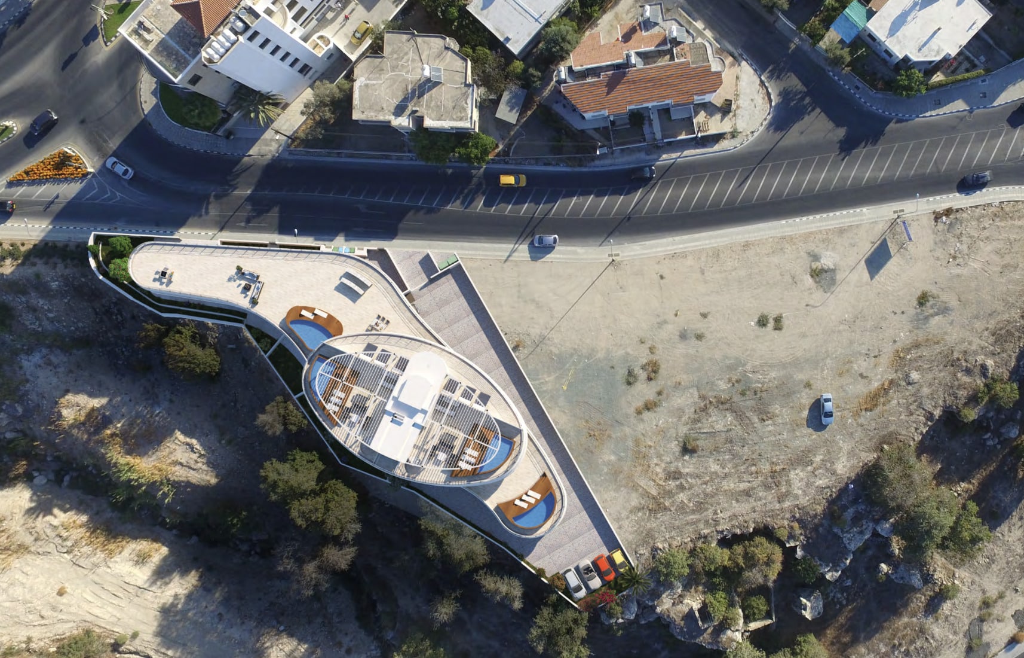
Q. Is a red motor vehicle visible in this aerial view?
Yes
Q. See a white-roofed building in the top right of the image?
Yes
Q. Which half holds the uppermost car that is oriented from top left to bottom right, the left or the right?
left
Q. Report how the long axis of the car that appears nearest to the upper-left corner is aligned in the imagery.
diagonally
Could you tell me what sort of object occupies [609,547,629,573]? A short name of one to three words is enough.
car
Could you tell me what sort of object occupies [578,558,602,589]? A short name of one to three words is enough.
car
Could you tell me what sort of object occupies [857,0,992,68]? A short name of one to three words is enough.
house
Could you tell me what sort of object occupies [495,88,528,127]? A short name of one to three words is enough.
shed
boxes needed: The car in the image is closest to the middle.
[534,234,559,247]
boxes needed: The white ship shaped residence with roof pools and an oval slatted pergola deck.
[128,241,567,537]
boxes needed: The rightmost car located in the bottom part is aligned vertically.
[819,394,834,425]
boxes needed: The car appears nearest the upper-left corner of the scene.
[30,109,58,134]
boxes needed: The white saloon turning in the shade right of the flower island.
[105,156,134,181]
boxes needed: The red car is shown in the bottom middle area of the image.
[594,553,615,581]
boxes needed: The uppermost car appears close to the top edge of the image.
[352,19,372,47]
